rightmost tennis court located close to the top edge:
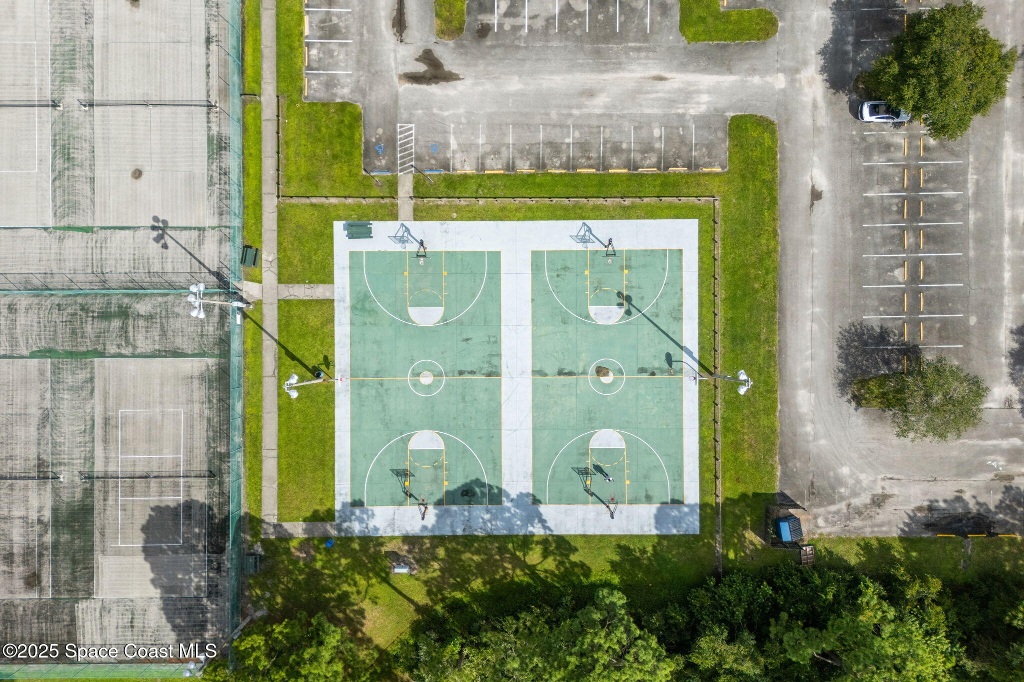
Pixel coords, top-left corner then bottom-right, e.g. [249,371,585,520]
[94,0,208,226]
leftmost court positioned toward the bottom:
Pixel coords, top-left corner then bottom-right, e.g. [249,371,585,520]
[0,358,51,599]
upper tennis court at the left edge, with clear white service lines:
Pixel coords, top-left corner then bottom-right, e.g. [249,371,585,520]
[0,0,51,226]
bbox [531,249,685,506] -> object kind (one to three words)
basketball court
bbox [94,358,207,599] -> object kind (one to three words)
tennis court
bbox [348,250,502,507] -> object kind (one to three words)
basketball court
